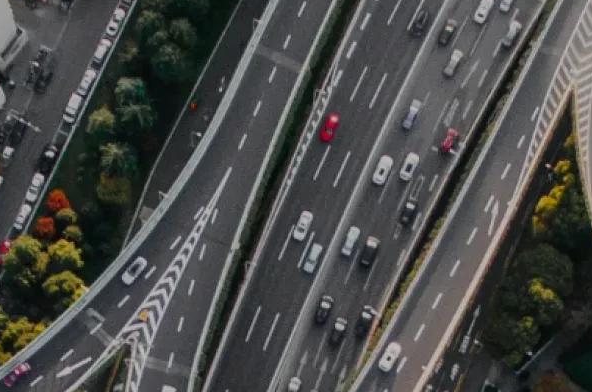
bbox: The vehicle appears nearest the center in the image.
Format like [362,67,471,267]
[293,211,312,240]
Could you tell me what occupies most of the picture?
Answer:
paved ground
